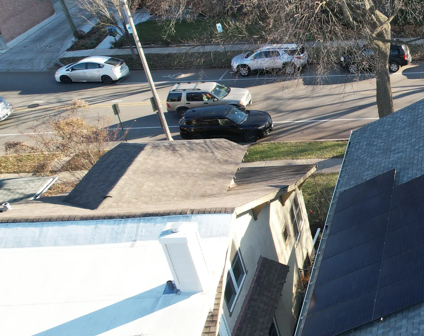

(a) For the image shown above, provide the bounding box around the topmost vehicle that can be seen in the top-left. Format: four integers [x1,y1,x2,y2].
[48,53,130,85]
